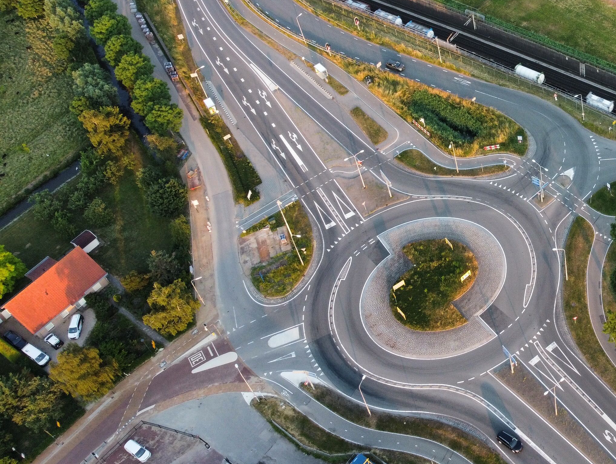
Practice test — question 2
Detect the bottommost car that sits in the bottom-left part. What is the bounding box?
[124,439,150,463]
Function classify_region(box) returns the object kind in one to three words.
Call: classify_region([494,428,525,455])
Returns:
car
